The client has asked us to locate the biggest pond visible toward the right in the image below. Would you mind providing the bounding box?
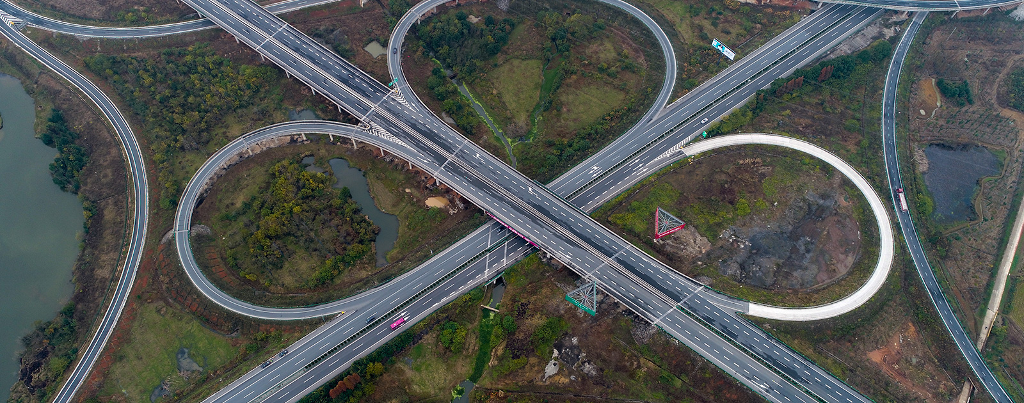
[924,143,999,222]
